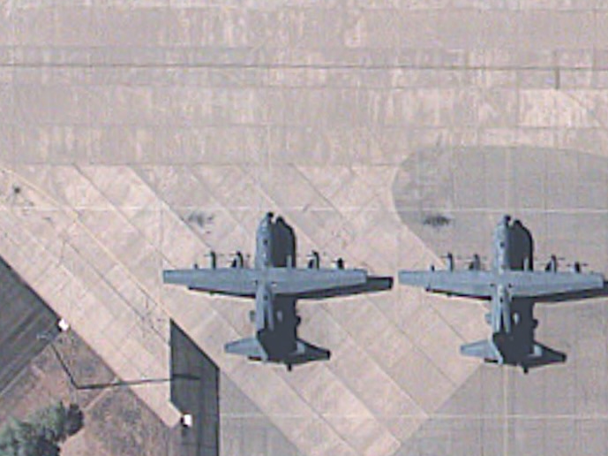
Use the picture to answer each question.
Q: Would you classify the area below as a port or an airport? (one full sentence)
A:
This looks like an airport.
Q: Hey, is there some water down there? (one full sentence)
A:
No, the scene doesn't show any water.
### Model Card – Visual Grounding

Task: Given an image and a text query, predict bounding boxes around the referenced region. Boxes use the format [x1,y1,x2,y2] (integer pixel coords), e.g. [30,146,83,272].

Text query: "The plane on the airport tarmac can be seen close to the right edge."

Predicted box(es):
[398,214,603,366]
